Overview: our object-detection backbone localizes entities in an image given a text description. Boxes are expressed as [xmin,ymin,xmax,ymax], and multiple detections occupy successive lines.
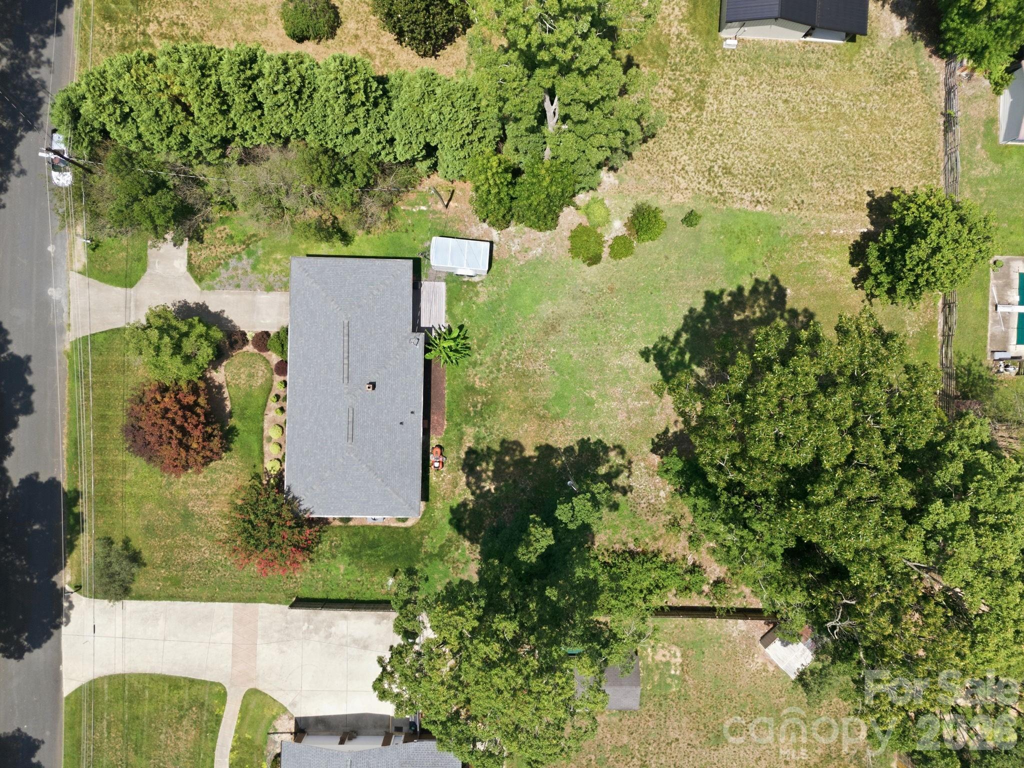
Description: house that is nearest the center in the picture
[284,256,437,518]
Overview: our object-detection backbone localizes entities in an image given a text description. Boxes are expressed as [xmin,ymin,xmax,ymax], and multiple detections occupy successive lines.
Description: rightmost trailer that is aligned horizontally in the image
[419,238,490,275]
